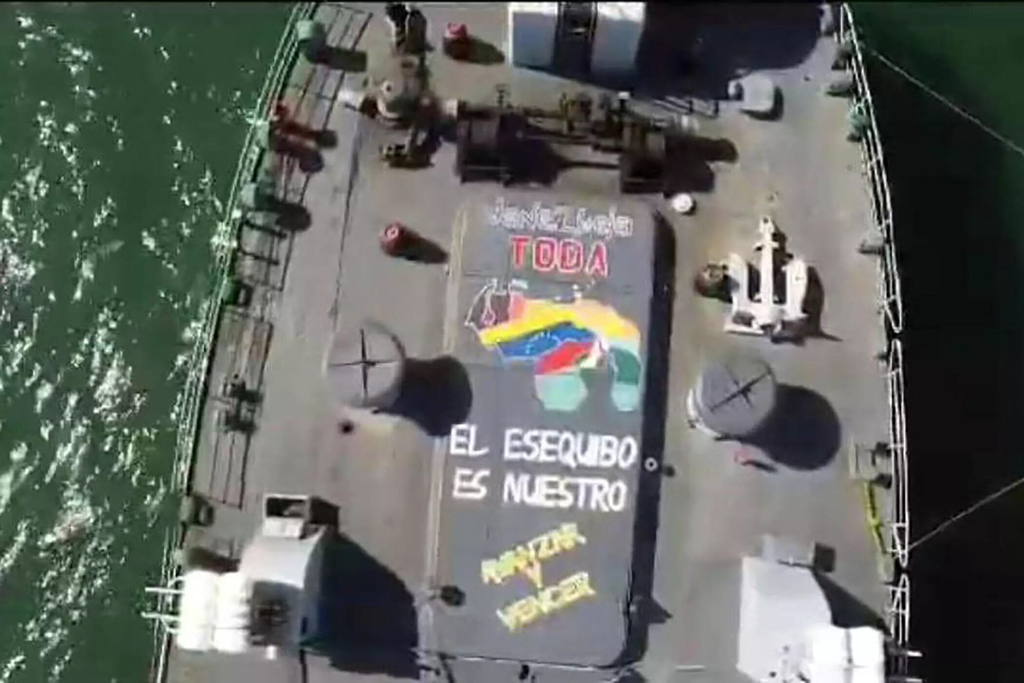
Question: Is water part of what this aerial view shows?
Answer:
Yes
